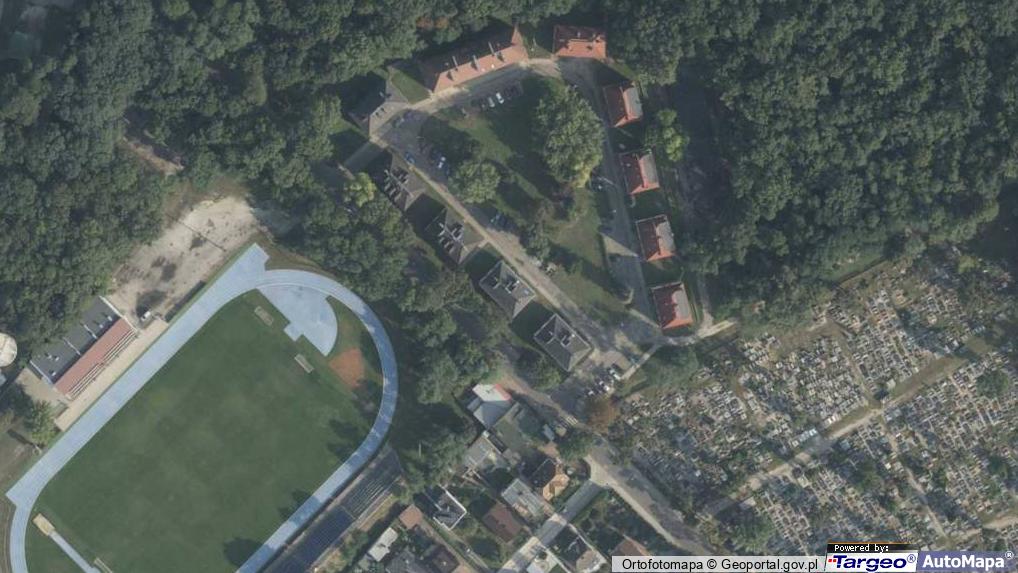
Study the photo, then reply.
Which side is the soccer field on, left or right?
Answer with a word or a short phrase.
left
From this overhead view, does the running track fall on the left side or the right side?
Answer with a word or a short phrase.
left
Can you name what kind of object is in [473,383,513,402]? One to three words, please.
house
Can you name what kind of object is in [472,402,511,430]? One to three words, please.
house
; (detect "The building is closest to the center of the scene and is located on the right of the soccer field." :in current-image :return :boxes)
[479,260,536,318]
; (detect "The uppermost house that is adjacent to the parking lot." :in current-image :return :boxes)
[424,30,529,91]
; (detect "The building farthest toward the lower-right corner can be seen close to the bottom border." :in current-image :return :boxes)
[607,537,654,573]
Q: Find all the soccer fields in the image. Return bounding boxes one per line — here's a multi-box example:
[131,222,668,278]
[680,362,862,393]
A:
[27,286,383,573]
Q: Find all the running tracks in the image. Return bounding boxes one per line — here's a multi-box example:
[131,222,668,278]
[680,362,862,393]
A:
[5,244,400,573]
